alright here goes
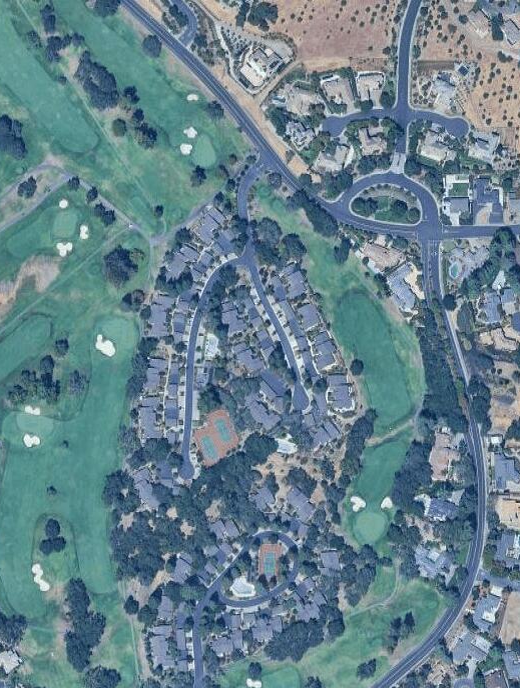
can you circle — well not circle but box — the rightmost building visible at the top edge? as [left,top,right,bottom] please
[500,14,520,46]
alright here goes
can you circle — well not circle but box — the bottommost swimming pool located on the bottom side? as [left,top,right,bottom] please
[232,577,251,595]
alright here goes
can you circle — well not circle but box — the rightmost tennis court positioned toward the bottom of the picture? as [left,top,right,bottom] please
[259,545,282,578]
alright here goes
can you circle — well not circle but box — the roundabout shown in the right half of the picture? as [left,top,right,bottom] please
[336,171,435,230]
